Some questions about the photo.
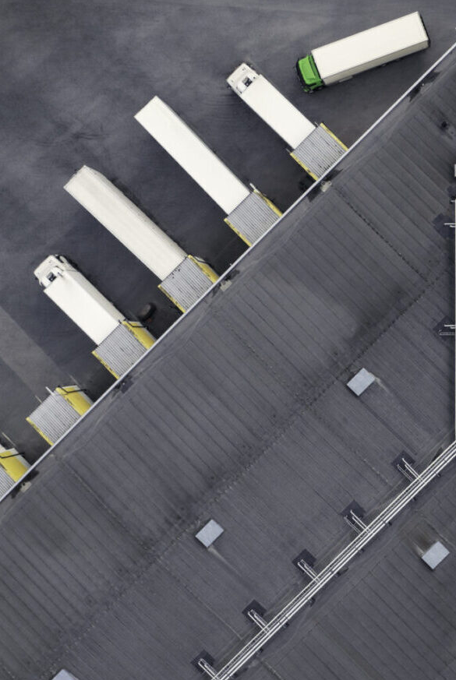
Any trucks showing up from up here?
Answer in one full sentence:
Yes, there's a truck here.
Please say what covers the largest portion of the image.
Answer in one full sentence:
Most of the picture is covered by buildings.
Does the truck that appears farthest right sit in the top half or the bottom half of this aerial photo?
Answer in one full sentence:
The top half of the photo is where the truck that appears farthest right is.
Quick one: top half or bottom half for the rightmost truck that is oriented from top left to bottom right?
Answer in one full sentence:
It is in the top half that the rightmost truck that is oriented from top left to bottom right appears.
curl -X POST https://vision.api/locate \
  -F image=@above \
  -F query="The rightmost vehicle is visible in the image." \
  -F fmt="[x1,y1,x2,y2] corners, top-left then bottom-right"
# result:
[291,12,429,99]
